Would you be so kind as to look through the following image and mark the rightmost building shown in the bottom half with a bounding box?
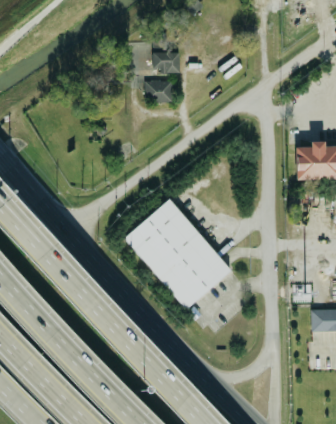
[310,310,336,332]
